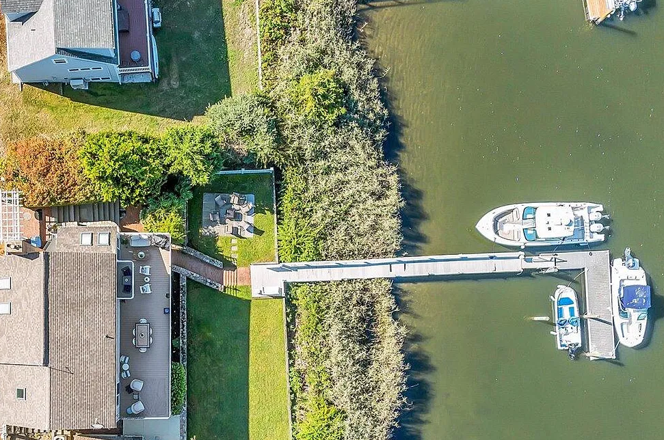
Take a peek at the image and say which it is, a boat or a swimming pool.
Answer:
boat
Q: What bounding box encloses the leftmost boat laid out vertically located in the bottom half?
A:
[548,287,581,360]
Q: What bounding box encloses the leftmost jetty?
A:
[249,249,536,297]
